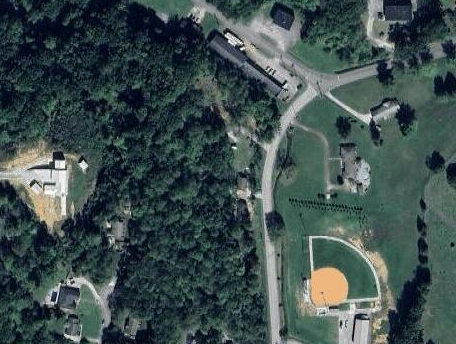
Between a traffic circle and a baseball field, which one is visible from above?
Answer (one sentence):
I can see a baseball field in this picture.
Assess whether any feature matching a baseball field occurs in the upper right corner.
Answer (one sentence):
No, I see no baseball field in the upper right corner.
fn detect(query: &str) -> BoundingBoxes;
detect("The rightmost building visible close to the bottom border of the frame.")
[354,319,369,344]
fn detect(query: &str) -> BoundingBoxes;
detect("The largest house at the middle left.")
[27,159,67,194]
